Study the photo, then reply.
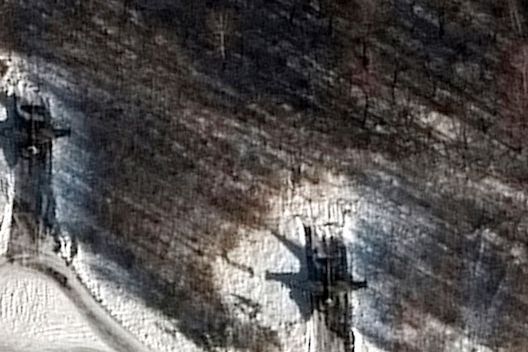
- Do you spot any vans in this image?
No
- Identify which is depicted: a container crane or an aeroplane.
aeroplane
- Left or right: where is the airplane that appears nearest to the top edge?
left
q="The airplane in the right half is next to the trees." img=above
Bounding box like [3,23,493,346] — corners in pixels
[287,249,368,320]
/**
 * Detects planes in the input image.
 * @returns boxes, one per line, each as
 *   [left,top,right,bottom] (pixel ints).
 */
[287,249,368,320]
[0,96,74,170]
